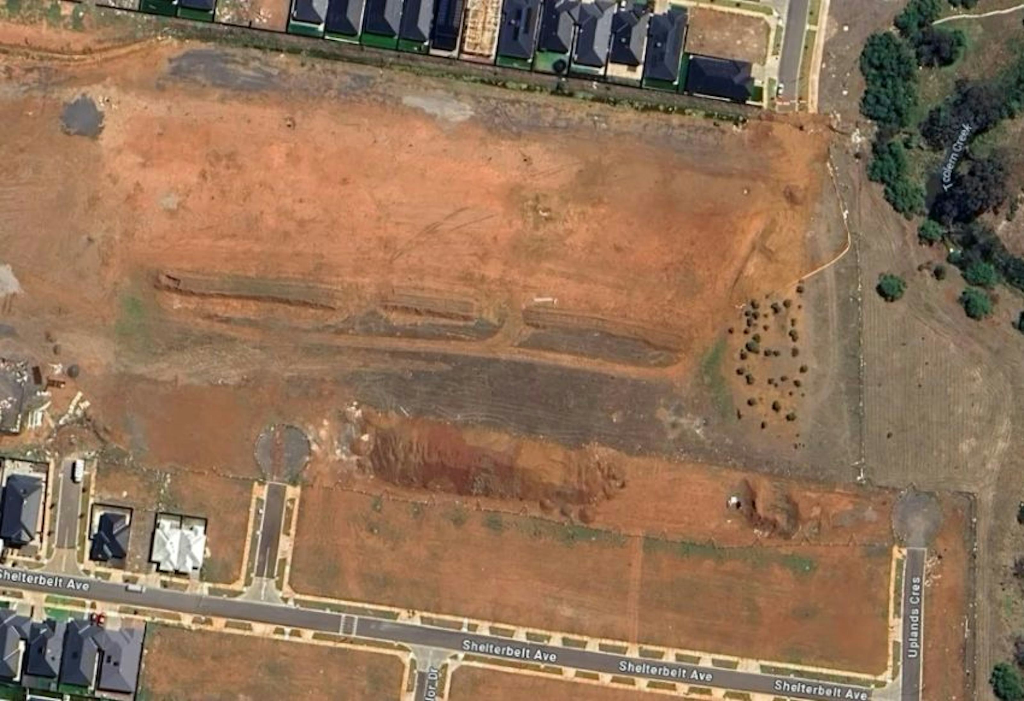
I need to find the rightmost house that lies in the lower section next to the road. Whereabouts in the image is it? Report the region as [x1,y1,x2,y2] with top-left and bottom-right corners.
[152,517,209,578]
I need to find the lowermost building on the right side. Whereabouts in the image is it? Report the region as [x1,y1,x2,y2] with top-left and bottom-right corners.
[688,59,757,100]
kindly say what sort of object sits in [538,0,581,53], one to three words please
house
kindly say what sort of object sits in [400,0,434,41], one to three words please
house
